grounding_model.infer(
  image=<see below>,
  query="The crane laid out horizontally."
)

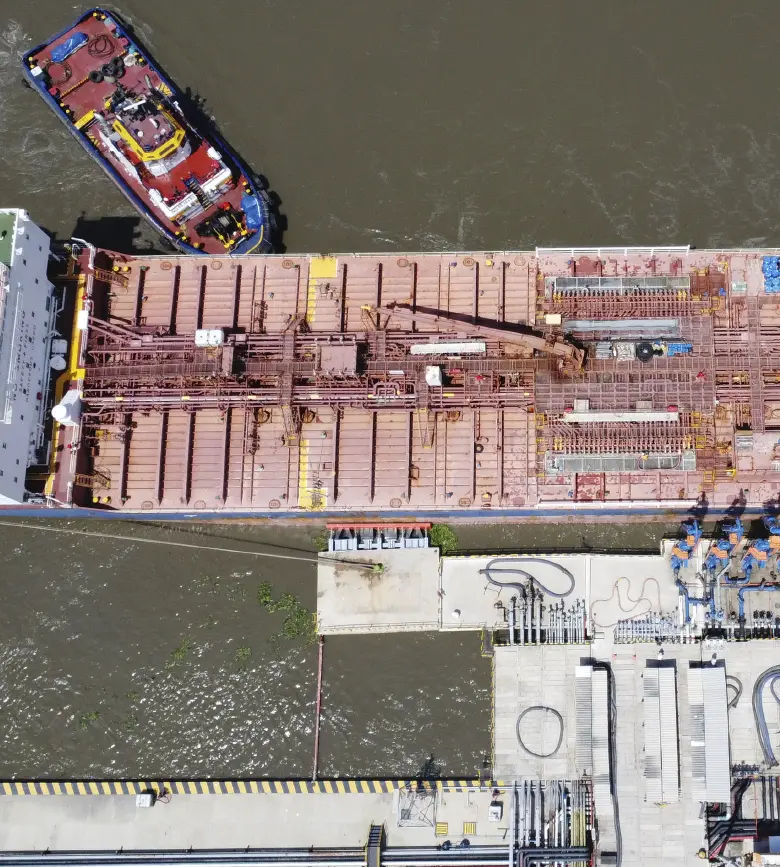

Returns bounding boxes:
[373,301,586,378]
